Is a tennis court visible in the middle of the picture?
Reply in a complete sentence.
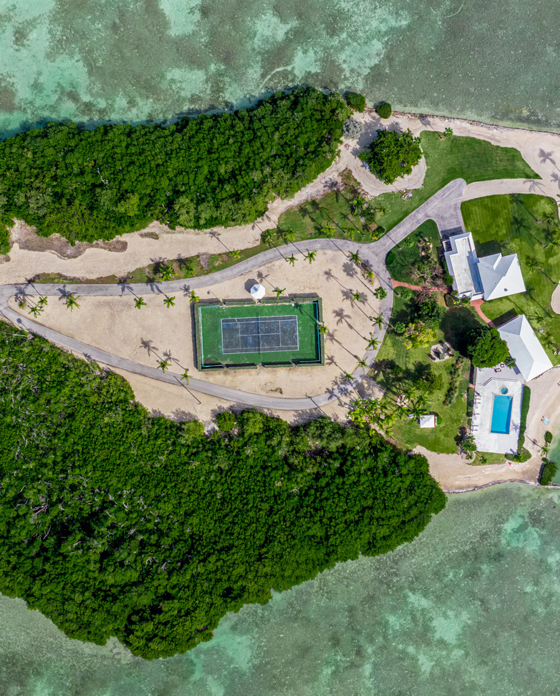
Yes, a tennis court shows up in the middle of the picture.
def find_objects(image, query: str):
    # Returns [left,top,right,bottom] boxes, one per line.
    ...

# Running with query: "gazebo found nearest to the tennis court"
[251,285,265,299]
